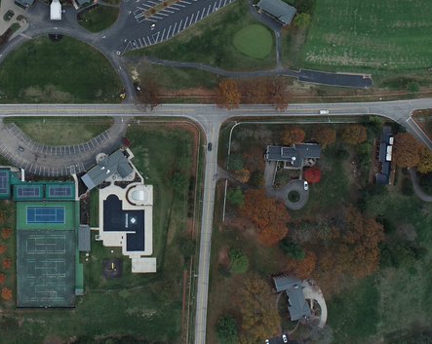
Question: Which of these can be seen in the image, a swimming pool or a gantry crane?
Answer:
swimming pool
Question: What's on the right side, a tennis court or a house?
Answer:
house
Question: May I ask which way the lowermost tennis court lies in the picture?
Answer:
horizontally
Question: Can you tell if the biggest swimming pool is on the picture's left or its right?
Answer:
left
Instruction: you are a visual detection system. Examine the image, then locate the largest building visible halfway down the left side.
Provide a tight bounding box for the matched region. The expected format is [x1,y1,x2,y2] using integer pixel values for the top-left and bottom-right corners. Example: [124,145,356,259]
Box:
[81,149,134,192]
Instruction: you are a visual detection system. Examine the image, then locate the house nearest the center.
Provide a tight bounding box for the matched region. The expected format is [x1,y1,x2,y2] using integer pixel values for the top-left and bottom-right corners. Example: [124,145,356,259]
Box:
[266,144,322,168]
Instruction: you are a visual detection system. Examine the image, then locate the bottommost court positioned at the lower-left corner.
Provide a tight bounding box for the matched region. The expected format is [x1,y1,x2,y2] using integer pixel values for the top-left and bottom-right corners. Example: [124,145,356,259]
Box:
[17,280,75,309]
